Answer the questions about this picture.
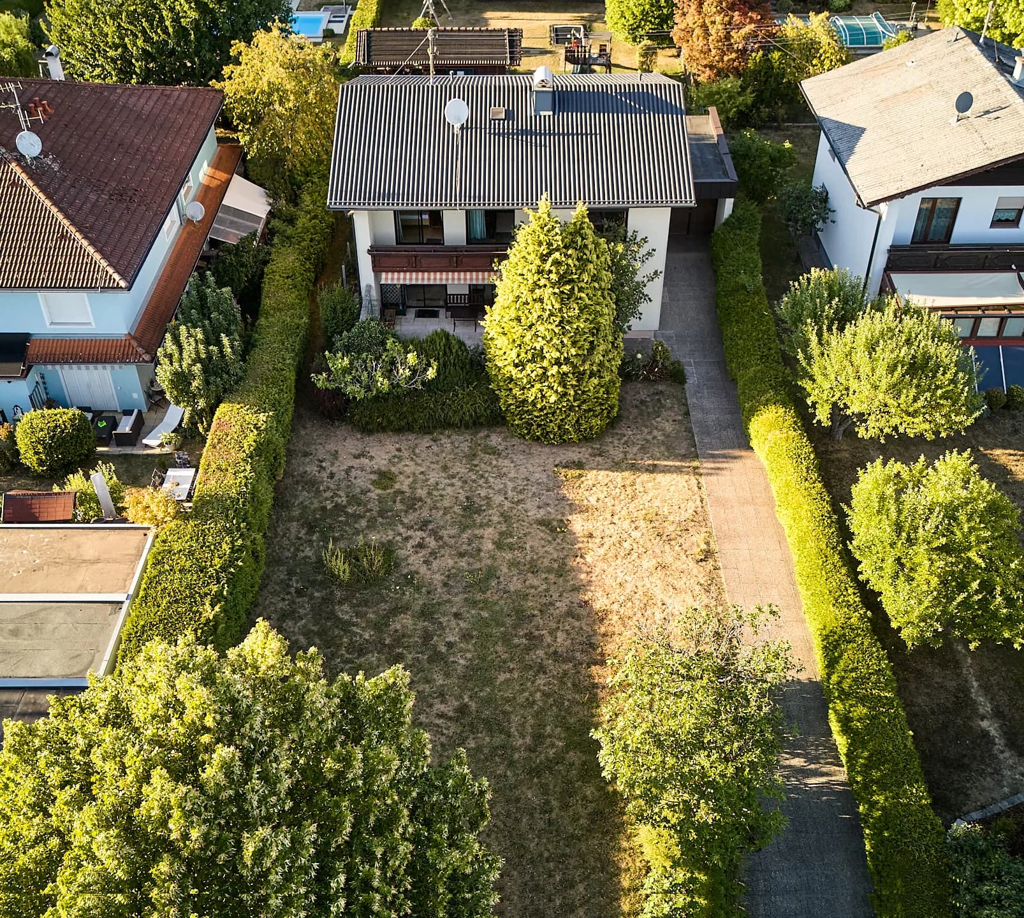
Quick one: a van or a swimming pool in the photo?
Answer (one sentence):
The one in the frame is a swimming pool.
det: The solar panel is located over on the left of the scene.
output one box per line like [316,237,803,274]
[0,324,33,375]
